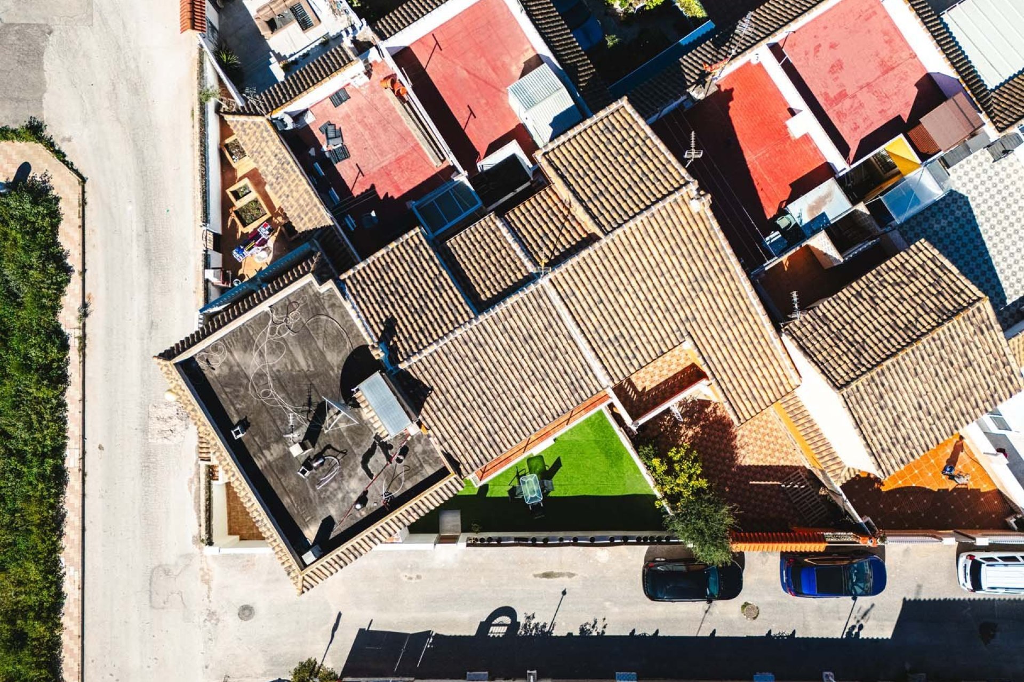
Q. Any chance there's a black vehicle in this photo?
Yes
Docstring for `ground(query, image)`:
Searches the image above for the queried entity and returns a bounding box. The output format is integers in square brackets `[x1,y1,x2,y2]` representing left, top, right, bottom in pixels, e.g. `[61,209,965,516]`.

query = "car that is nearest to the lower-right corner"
[957,546,1024,595]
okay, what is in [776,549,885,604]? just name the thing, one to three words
car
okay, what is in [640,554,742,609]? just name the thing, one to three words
car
